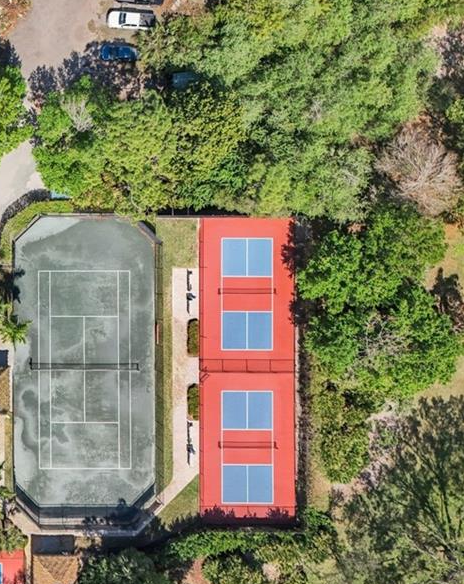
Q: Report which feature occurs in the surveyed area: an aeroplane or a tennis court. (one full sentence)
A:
This aerial view contains a tennis court.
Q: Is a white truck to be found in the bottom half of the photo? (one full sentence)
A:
No, I see no white truck in the bottom half of the photo.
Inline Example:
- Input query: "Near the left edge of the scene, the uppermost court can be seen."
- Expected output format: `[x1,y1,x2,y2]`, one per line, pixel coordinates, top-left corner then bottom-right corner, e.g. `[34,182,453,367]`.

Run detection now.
[14,216,155,522]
